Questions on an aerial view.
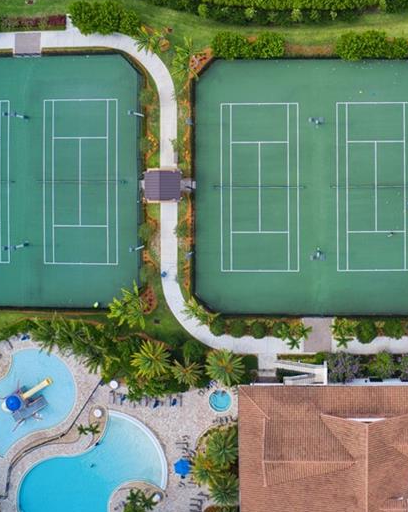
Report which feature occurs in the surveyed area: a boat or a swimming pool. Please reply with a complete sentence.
This aerial view contains a swimming pool.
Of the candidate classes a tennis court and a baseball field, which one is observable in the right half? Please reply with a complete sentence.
It is a tennis court that can be seen in the right half.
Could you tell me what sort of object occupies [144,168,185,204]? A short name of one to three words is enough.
building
